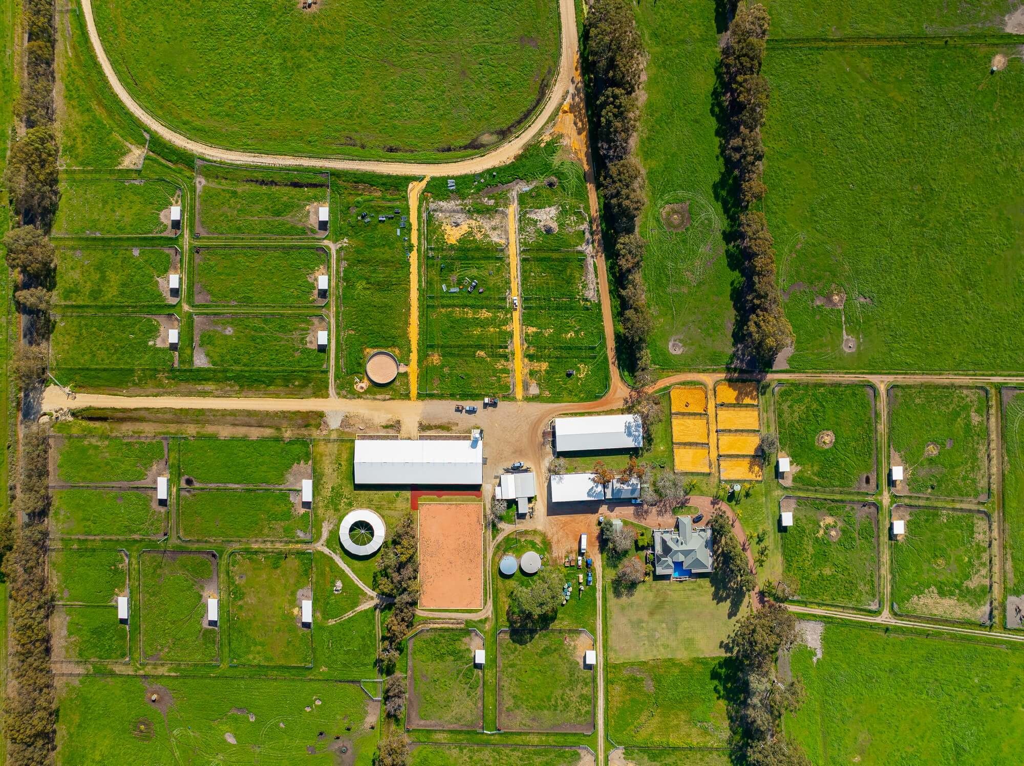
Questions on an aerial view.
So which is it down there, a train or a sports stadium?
sports stadium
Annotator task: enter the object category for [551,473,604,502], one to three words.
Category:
barn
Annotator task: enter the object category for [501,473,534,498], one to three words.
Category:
shed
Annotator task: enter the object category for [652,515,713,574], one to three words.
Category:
house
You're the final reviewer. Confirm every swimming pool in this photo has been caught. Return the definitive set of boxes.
[673,562,691,577]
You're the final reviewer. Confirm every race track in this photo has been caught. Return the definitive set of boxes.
[81,0,577,177]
